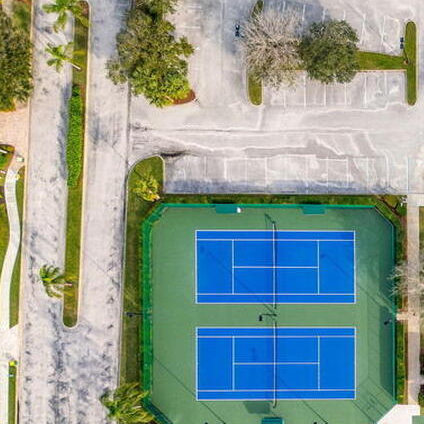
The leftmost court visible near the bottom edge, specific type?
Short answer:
tennis court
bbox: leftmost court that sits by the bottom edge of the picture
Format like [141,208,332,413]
[196,322,355,407]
